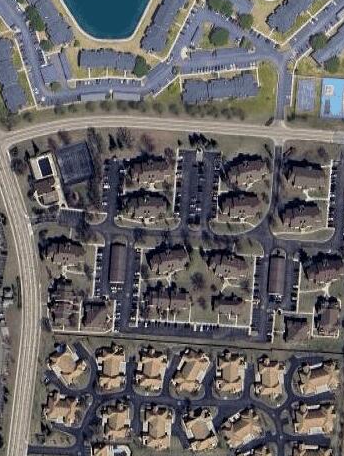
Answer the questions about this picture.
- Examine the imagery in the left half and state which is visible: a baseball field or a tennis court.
tennis court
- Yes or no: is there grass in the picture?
Yes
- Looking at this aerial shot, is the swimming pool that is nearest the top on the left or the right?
left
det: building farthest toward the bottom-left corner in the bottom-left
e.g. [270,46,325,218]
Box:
[43,394,82,423]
